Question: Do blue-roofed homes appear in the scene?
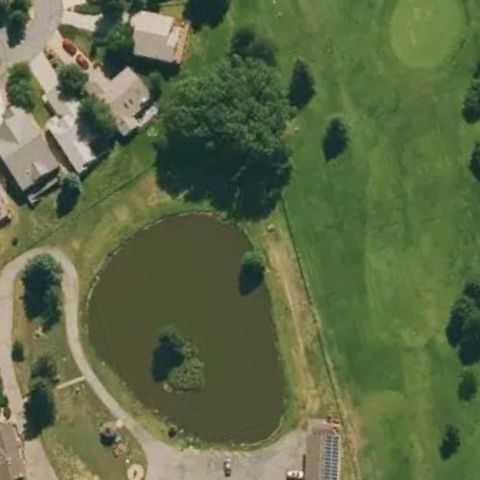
No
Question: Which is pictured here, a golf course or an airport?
golf course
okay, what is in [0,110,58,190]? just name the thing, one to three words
house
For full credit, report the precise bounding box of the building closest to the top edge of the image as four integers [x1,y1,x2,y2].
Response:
[130,13,176,62]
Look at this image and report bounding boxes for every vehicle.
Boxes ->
[75,54,89,70]
[63,38,77,54]
[286,471,304,479]
[224,456,232,474]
